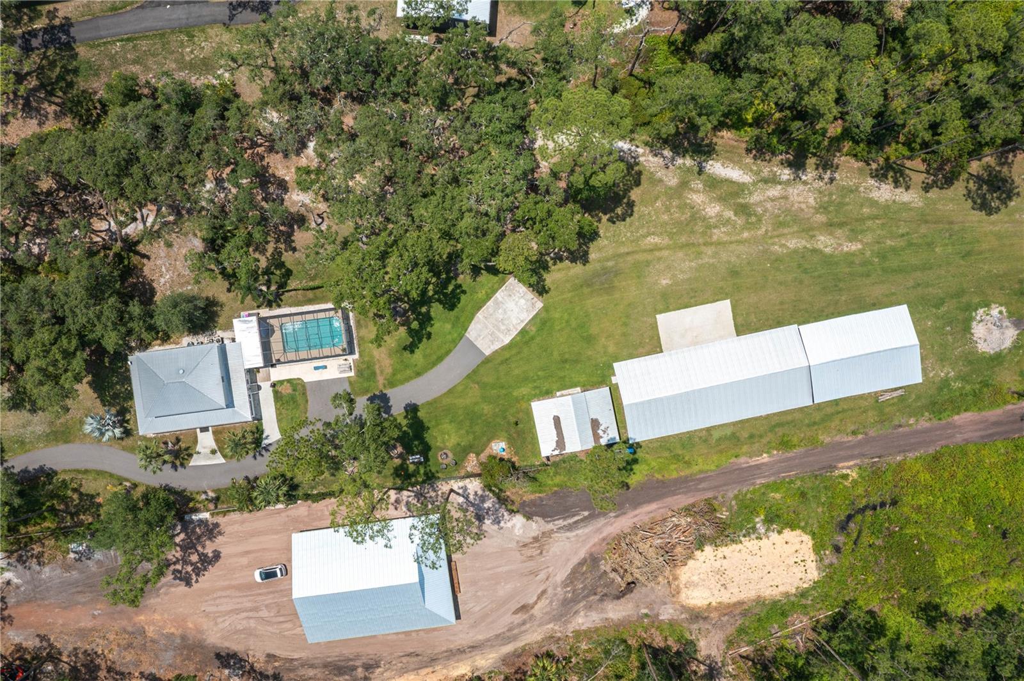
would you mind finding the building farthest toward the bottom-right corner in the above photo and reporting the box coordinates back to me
[797,304,922,403]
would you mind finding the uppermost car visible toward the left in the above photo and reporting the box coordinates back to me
[253,565,286,584]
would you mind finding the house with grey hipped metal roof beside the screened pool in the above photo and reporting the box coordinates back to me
[127,342,255,435]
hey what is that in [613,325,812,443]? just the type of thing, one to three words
barn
